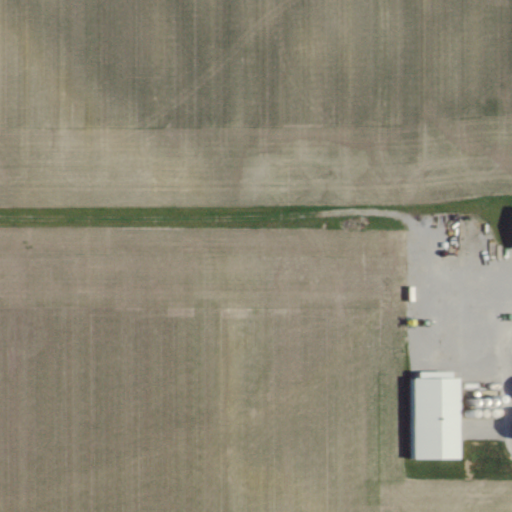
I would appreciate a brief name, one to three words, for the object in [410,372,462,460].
shed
